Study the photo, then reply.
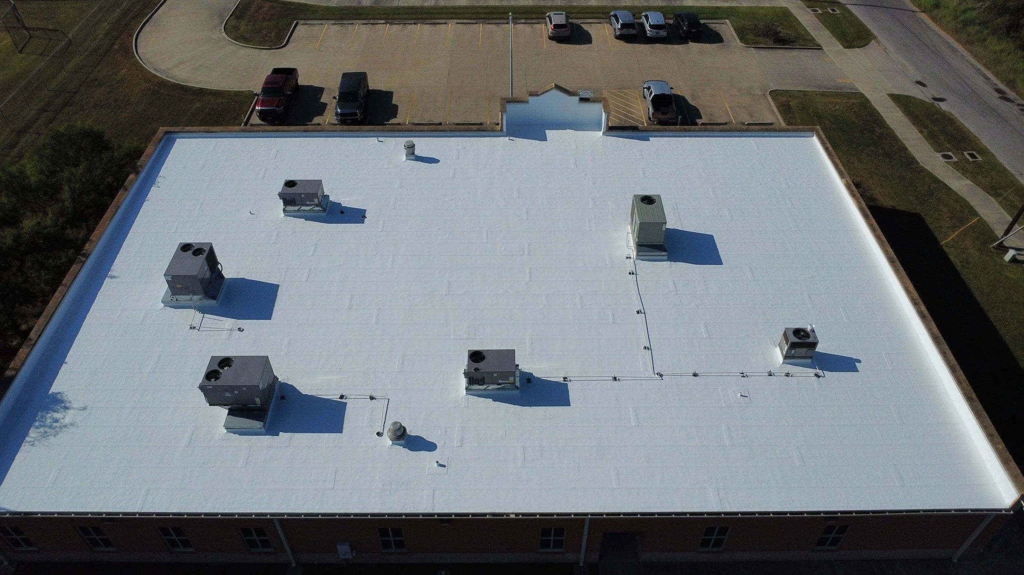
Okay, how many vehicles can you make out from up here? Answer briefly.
7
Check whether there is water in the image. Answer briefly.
No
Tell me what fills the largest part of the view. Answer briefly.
buildings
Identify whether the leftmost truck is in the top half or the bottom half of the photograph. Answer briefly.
top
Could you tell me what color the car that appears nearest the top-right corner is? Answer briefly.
black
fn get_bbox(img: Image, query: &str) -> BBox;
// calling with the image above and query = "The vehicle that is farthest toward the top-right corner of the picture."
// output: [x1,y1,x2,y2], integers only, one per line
[671,7,705,35]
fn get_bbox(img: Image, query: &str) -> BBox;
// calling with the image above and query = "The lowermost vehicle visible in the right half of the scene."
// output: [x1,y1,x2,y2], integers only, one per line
[640,73,678,122]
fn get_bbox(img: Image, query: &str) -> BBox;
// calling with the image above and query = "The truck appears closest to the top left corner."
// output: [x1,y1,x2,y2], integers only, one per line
[253,65,301,118]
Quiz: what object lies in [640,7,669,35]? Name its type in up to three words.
car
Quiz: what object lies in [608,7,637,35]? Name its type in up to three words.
car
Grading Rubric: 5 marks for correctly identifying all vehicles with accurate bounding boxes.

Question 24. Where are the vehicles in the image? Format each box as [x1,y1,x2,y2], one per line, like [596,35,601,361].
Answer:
[640,7,669,35]
[330,72,371,124]
[253,65,301,118]
[671,7,705,35]
[545,8,571,36]
[640,73,678,122]
[608,7,637,35]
